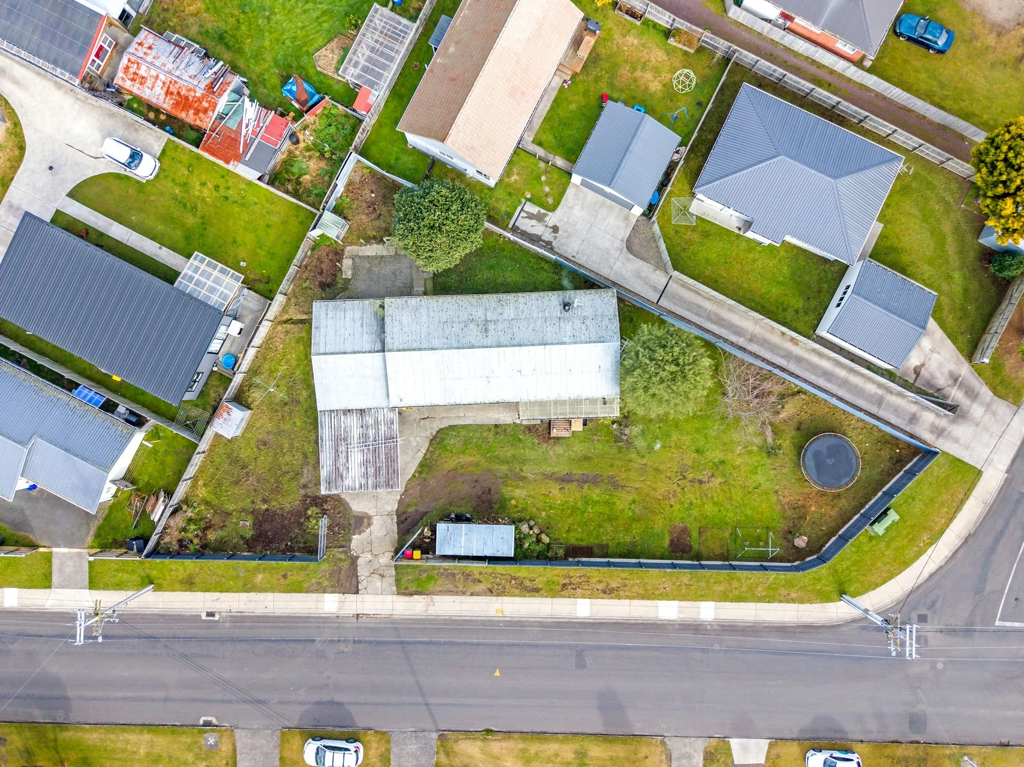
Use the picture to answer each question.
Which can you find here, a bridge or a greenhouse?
greenhouse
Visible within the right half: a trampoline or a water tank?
trampoline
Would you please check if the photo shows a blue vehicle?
Yes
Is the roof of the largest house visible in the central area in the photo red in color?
No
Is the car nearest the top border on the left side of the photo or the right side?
right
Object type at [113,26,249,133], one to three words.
shed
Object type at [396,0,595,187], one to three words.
house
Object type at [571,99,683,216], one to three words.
building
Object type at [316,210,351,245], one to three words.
shed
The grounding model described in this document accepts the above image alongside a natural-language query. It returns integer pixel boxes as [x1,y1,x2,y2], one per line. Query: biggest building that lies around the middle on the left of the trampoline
[311,288,621,494]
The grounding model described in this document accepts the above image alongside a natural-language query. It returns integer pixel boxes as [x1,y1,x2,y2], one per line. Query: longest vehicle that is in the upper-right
[890,15,955,54]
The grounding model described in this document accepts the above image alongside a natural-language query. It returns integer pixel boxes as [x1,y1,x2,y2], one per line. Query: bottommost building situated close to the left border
[0,349,155,515]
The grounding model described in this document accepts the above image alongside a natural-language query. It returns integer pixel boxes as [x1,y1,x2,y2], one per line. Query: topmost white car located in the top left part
[98,134,165,184]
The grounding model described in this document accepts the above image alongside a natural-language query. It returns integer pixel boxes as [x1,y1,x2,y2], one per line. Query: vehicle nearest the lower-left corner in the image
[304,736,365,767]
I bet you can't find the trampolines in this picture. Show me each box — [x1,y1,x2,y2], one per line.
[797,432,860,491]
